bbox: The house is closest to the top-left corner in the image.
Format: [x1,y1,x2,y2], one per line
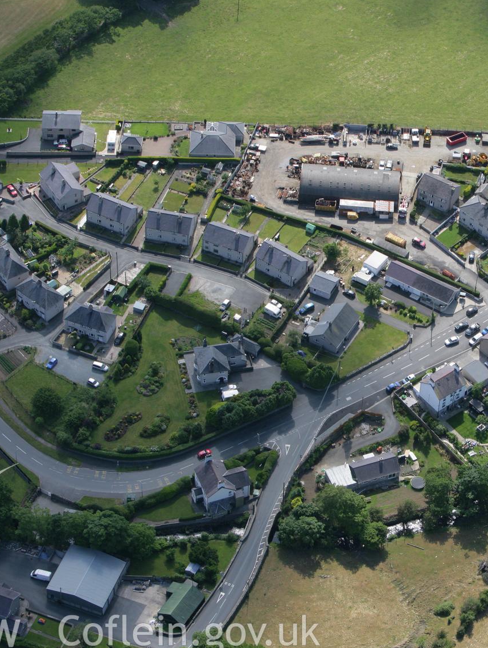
[42,110,82,140]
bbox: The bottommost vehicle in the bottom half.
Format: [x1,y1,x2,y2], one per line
[30,566,52,581]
